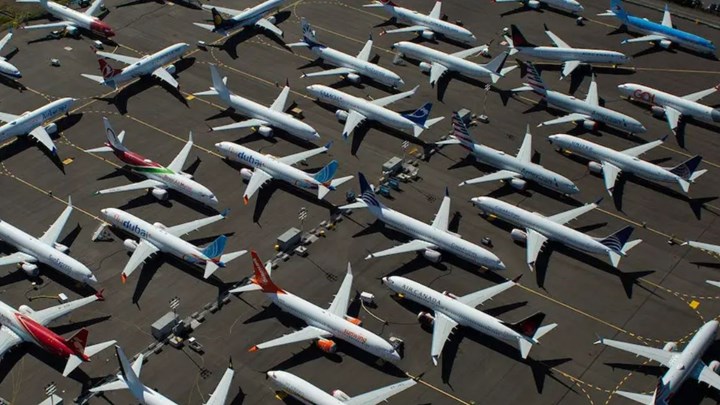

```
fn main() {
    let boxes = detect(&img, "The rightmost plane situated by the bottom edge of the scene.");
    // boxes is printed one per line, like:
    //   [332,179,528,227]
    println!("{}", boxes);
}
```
[596,319,720,405]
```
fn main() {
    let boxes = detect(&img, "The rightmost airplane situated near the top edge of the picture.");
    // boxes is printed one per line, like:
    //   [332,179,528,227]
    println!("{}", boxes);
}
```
[598,0,716,53]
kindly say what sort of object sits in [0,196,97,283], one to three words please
airplane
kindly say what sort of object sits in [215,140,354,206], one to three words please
airplane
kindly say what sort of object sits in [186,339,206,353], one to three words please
vehicle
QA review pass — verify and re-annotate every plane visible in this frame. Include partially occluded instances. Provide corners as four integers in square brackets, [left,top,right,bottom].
[362,0,476,44]
[618,83,720,134]
[492,0,582,14]
[227,250,400,360]
[285,18,404,89]
[215,140,354,206]
[394,40,518,89]
[435,110,579,195]
[384,274,558,365]
[0,288,118,378]
[0,196,97,283]
[309,84,445,139]
[16,0,116,41]
[83,117,219,206]
[598,0,716,53]
[101,207,248,286]
[503,23,630,79]
[596,319,720,405]
[0,96,76,155]
[511,60,646,135]
[267,371,425,405]
[80,43,193,91]
[550,134,708,197]
[338,171,506,271]
[473,196,643,271]
[193,0,288,39]
[192,63,320,141]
